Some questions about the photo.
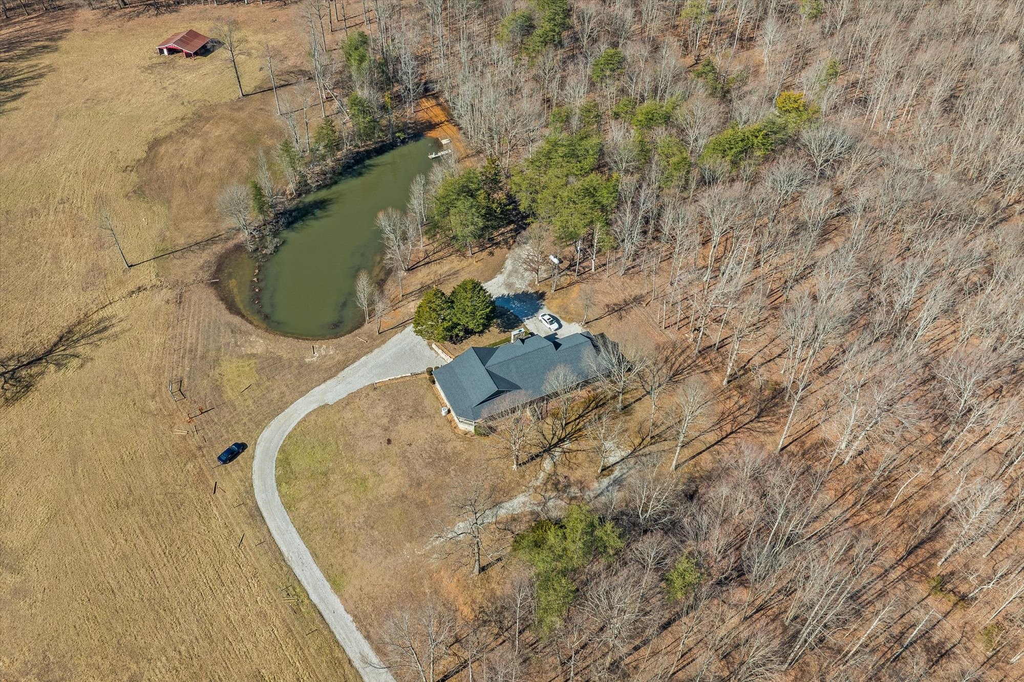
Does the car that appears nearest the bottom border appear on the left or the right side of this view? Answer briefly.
left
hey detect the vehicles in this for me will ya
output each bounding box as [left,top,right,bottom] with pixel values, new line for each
[539,313,561,330]
[215,442,249,466]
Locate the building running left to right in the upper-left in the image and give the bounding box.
[154,30,220,60]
